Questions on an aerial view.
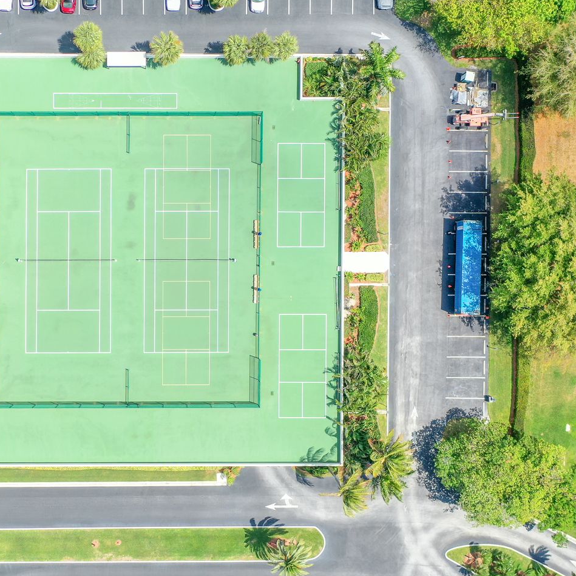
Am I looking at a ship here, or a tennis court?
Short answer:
tennis court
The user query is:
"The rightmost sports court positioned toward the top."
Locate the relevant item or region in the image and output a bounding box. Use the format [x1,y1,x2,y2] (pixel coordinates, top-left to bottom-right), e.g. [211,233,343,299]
[278,142,326,247]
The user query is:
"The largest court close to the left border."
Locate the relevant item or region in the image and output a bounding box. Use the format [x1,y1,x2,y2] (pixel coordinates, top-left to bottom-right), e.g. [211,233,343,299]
[16,168,118,353]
